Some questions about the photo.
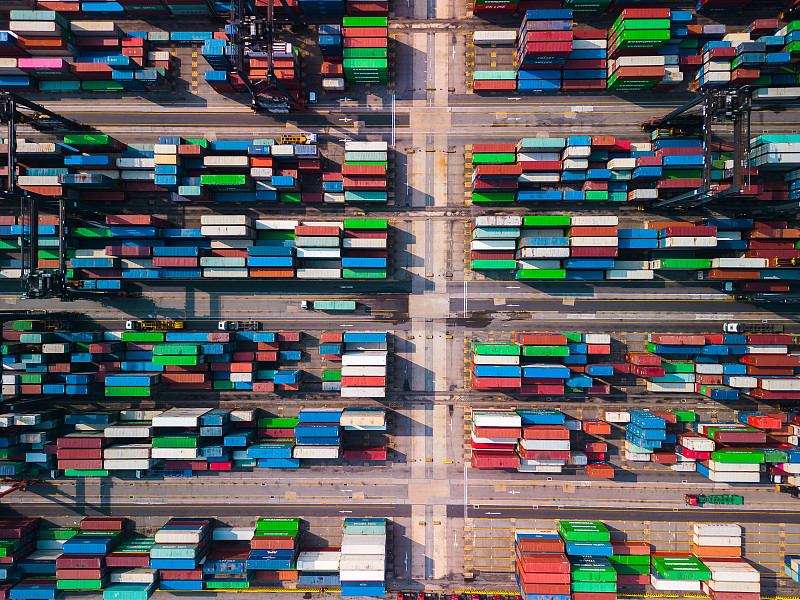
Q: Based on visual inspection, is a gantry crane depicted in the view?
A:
Yes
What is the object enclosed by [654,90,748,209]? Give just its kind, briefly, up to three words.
container crane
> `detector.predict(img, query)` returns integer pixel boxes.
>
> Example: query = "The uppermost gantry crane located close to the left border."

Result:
[0,88,75,209]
